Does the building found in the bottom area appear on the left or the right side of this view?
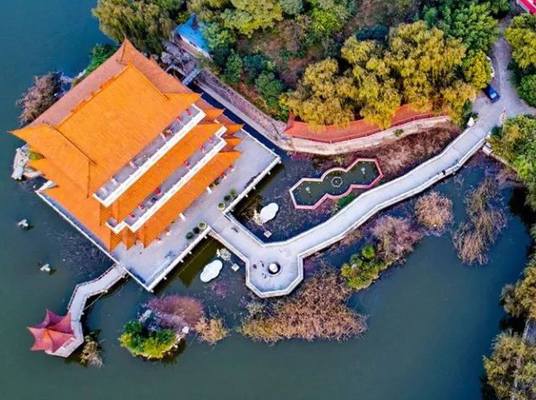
left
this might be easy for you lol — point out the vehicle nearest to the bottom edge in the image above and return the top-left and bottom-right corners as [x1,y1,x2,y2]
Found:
[485,84,499,102]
